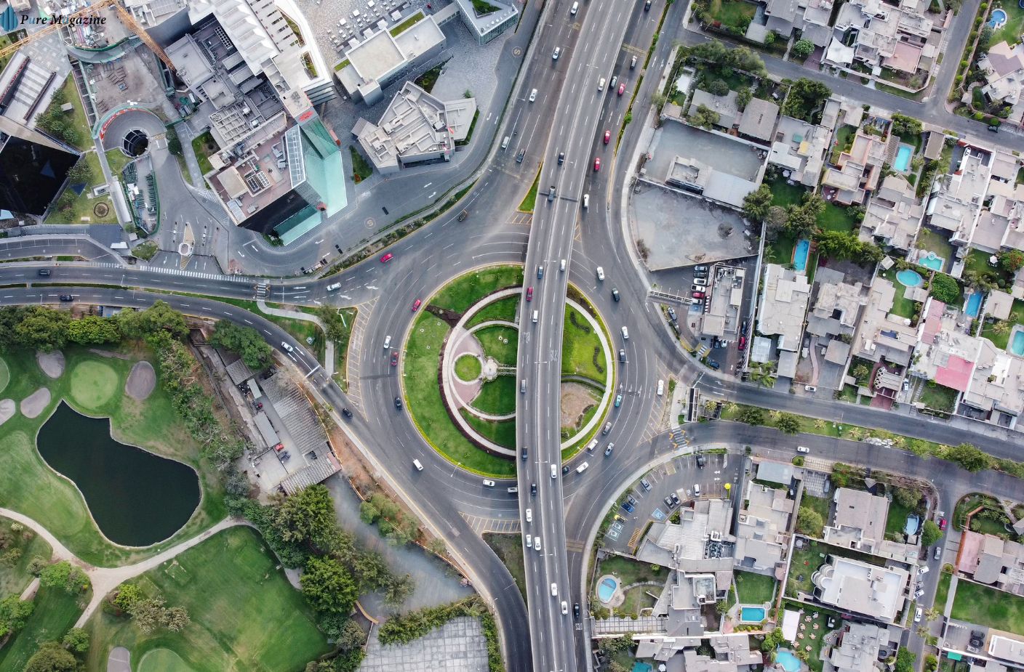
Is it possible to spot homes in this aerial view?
Yes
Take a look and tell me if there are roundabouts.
Yes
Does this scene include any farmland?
No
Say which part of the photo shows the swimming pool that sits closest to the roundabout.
bottom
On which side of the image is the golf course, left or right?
left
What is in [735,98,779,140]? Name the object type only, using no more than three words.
house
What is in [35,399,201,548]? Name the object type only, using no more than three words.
pond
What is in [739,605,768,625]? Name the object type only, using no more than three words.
swimming pool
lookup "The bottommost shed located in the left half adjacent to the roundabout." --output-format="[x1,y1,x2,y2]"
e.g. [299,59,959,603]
[216,348,345,494]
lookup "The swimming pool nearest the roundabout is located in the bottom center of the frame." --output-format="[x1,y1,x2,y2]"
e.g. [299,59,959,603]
[594,574,621,607]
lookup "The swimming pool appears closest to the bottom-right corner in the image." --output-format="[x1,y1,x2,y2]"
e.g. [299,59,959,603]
[903,514,921,535]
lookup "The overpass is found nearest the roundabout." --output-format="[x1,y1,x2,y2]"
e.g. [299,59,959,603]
[516,0,635,672]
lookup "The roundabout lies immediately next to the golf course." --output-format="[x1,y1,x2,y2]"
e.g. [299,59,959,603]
[360,221,657,519]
